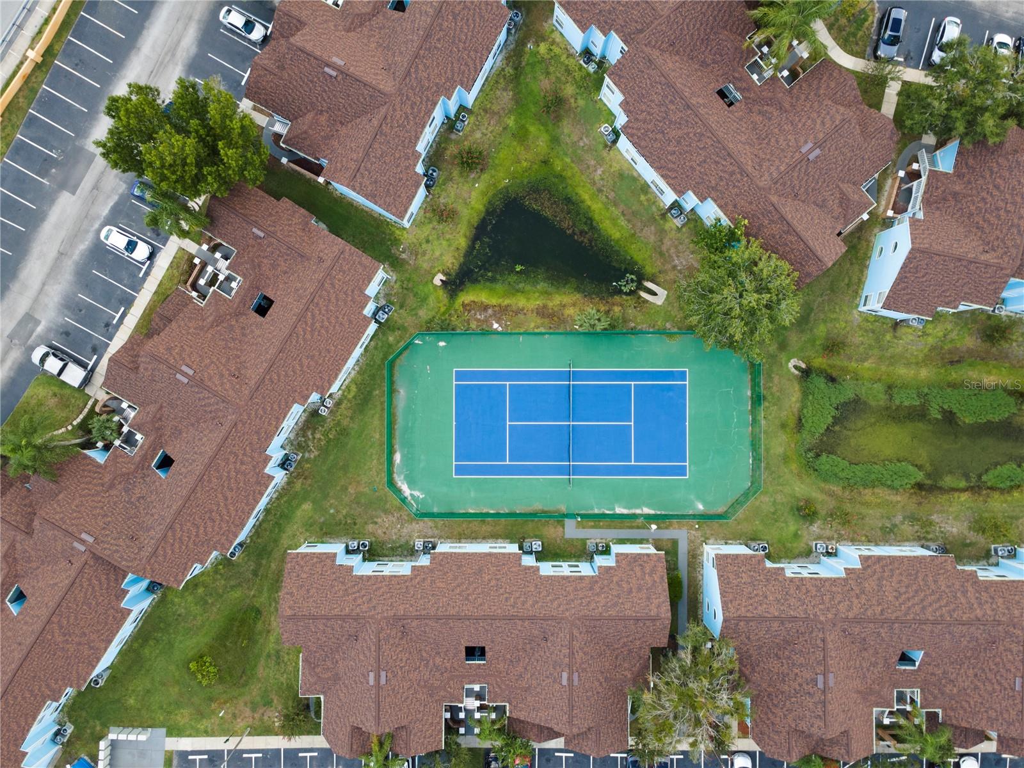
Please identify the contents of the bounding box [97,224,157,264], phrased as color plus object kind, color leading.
white car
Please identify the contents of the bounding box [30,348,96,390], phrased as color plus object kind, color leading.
white truck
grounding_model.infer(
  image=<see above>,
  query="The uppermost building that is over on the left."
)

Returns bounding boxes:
[245,0,528,229]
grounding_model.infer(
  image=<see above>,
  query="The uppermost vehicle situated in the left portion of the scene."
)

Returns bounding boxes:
[216,4,269,45]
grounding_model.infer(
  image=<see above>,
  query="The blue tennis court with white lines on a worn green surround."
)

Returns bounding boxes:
[391,334,752,514]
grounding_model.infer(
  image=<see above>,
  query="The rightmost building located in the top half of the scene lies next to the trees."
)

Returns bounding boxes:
[861,110,1024,321]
